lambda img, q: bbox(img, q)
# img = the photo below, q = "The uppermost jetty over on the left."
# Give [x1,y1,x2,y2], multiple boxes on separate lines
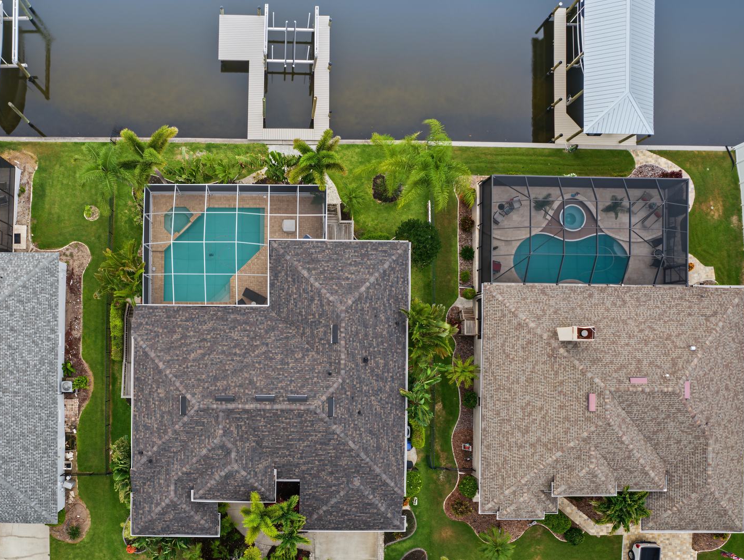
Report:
[219,14,329,140]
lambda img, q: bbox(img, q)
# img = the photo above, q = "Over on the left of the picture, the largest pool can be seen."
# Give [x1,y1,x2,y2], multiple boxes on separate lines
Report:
[162,205,266,304]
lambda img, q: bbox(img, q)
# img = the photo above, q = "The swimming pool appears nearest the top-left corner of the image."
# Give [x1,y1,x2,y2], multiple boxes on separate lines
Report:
[162,205,194,236]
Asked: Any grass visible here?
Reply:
Yes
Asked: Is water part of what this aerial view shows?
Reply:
Yes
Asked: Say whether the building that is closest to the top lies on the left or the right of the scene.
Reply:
right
